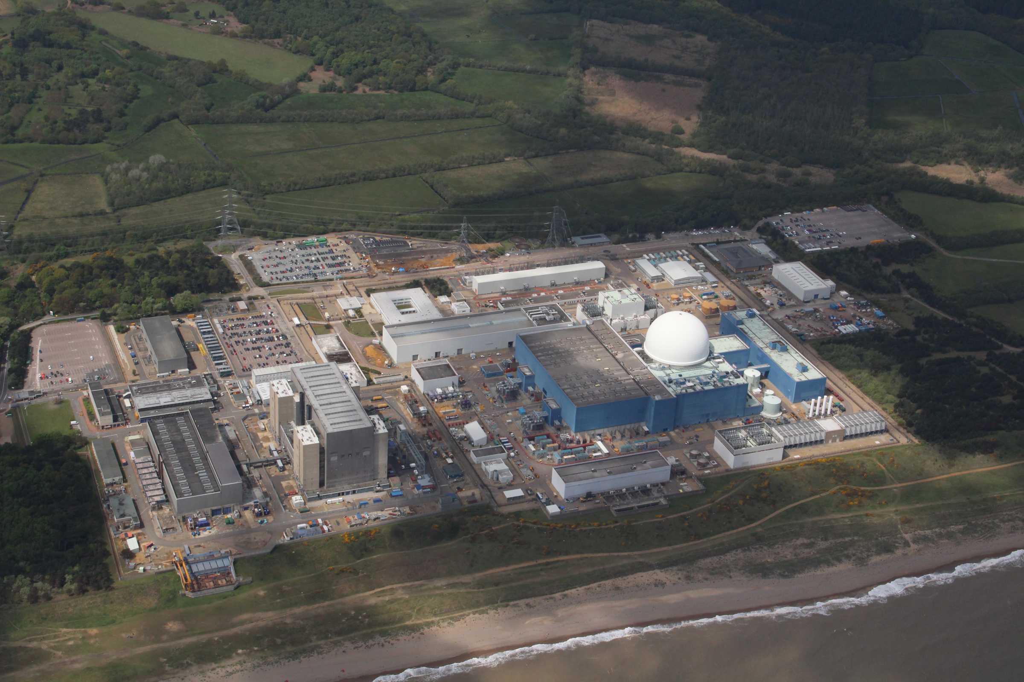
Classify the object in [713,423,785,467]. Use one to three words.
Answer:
house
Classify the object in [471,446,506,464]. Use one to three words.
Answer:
building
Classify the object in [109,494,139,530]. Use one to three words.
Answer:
building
